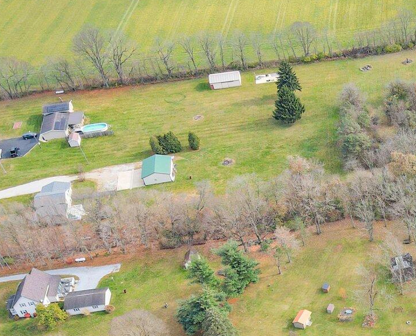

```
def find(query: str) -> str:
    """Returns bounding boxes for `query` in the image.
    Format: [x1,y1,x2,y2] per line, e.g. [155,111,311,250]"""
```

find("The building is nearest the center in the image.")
[142,151,174,186]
